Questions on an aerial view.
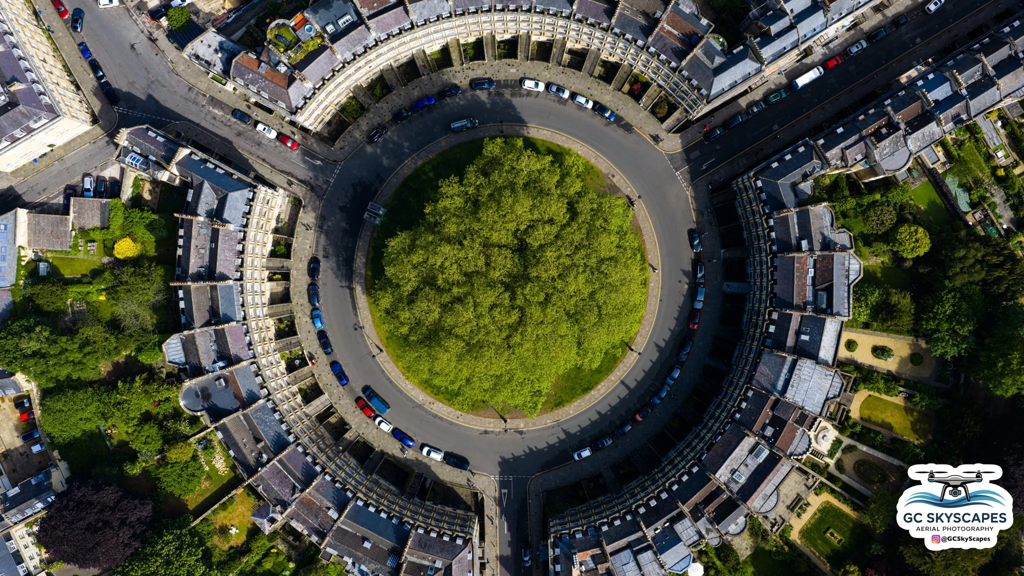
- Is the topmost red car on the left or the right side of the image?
left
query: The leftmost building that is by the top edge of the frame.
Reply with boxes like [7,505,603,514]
[0,0,101,183]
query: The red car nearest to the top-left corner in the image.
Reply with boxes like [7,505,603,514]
[51,0,71,20]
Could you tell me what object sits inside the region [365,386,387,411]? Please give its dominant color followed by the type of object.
blue vehicle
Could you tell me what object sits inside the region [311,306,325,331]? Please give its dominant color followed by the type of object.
blue car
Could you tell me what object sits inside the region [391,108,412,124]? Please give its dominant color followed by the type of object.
black car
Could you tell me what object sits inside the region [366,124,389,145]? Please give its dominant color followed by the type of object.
black car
